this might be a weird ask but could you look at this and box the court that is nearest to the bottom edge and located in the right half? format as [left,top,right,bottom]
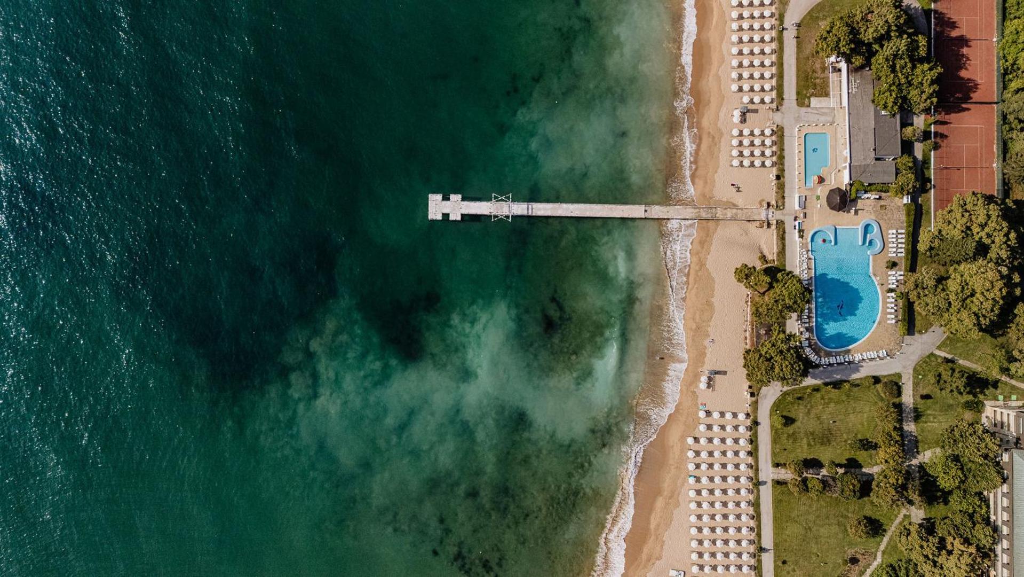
[934,103,996,235]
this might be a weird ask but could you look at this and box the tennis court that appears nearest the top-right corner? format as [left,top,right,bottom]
[934,0,996,102]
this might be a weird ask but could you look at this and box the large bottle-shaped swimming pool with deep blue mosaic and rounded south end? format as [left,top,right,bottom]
[810,225,882,350]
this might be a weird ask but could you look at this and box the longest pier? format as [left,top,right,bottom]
[428,193,767,223]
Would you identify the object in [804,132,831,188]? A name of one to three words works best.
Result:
swimming pool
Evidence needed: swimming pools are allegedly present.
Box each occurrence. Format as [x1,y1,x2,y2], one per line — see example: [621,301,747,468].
[804,132,831,188]
[810,225,882,350]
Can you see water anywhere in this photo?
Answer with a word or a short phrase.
Yes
